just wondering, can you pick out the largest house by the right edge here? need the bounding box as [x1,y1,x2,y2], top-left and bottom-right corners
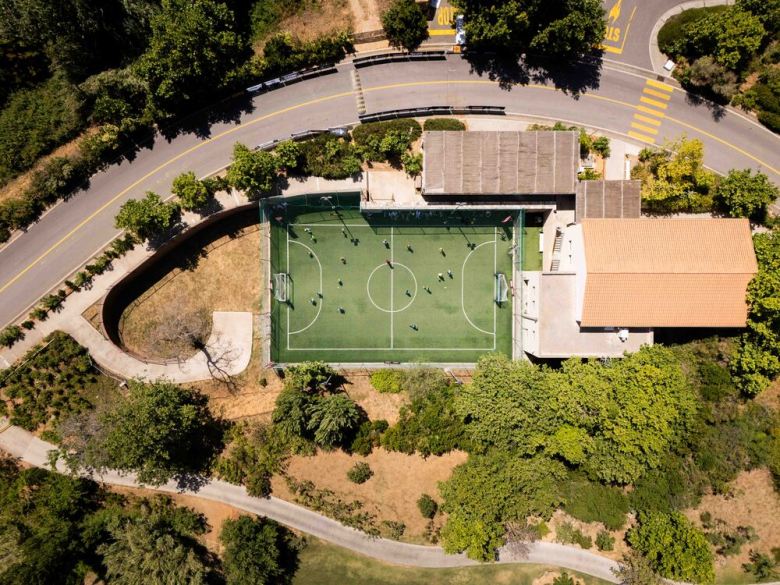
[561,218,757,328]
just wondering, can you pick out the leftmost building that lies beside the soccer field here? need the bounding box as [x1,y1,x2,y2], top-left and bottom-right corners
[423,132,579,203]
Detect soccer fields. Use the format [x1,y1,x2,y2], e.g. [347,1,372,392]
[263,197,522,369]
